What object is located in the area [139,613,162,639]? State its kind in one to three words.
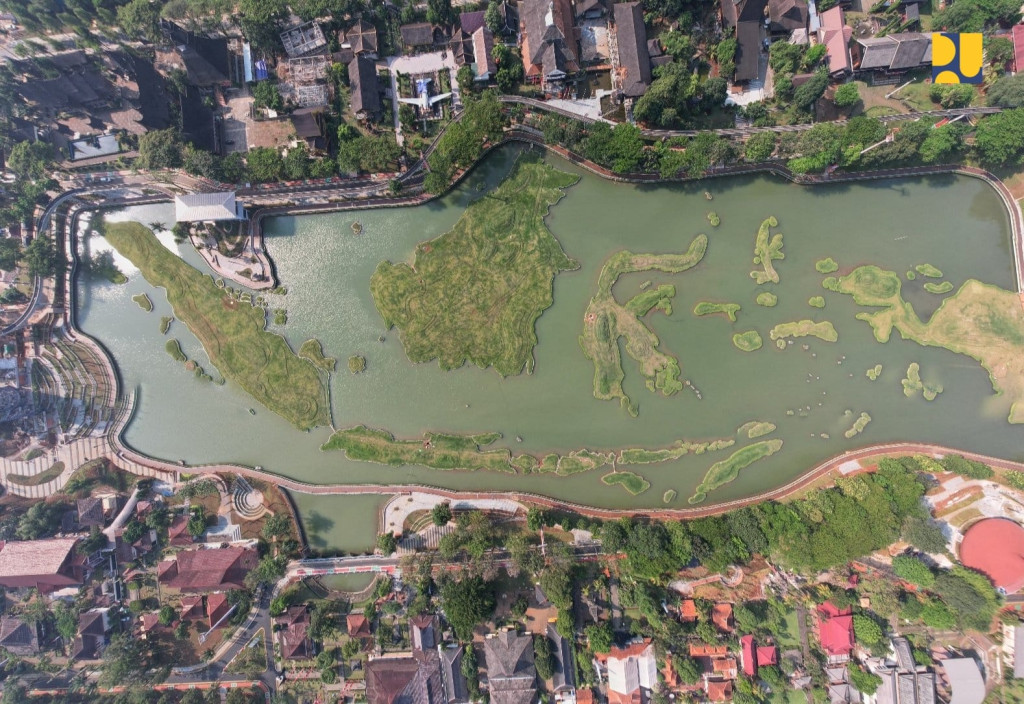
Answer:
shed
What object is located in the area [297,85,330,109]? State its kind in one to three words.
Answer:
building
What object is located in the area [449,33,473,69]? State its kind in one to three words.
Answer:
house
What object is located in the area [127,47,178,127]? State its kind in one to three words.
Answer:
house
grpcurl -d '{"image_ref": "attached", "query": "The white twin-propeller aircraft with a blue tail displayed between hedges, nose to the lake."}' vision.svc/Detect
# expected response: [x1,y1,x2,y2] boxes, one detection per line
[398,75,452,112]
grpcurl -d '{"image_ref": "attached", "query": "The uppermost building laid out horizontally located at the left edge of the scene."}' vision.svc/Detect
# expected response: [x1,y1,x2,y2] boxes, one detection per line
[48,49,93,72]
